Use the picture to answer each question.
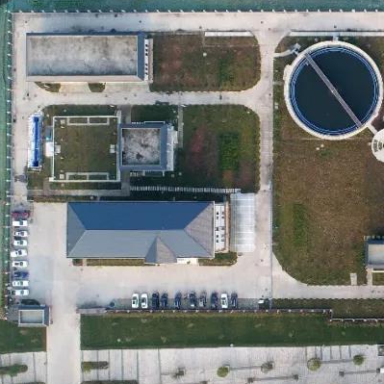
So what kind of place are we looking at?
industrial area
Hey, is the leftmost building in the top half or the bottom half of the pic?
bottom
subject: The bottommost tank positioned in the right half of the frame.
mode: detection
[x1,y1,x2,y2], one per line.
[280,41,384,140]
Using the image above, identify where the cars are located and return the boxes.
[11,213,28,220]
[138,293,147,308]
[219,293,227,308]
[10,261,26,268]
[198,293,206,308]
[9,220,27,228]
[11,290,27,297]
[209,293,217,308]
[173,293,181,308]
[11,271,27,278]
[129,293,138,308]
[12,231,27,237]
[19,297,37,304]
[158,293,168,308]
[12,240,27,246]
[230,293,237,308]
[149,293,158,308]
[11,280,27,287]
[188,293,196,308]
[9,249,25,257]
